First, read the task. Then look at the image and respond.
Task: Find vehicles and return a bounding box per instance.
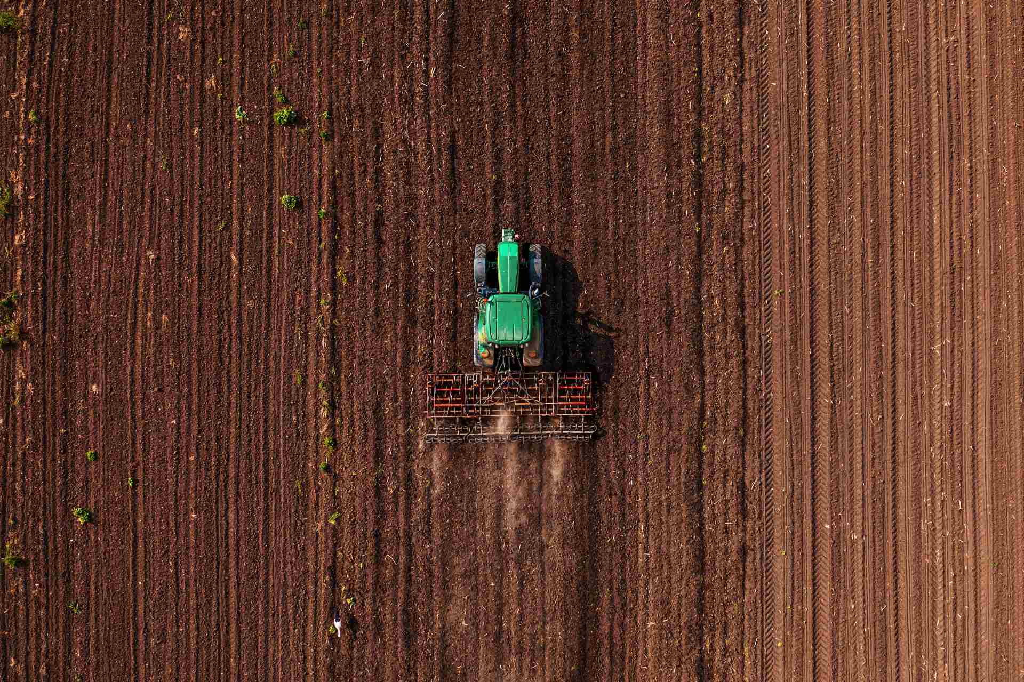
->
[467,229,547,379]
